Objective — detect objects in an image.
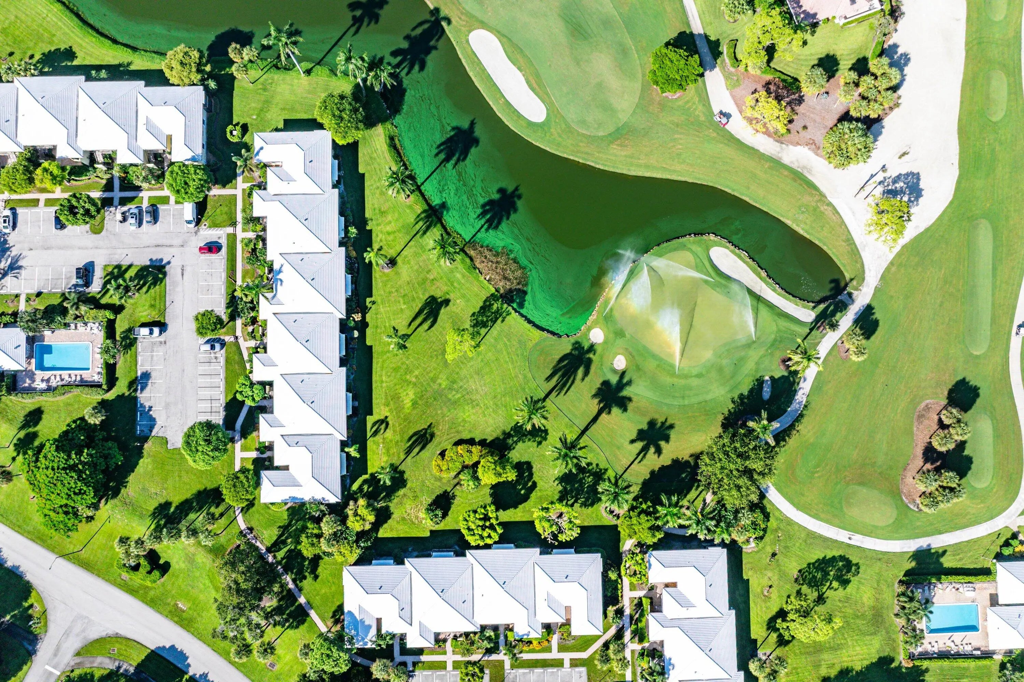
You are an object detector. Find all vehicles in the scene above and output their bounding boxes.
[53,208,65,229]
[116,212,126,223]
[143,205,154,226]
[199,343,222,353]
[74,266,86,290]
[127,208,138,230]
[130,327,161,338]
[0,209,12,232]
[181,201,195,228]
[198,245,218,255]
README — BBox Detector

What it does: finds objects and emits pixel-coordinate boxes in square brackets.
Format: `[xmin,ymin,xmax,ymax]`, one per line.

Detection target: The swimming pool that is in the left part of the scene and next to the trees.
[11,322,98,392]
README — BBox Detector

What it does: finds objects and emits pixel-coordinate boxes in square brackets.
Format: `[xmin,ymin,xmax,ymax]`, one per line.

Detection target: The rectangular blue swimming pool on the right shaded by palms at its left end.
[902,584,1014,659]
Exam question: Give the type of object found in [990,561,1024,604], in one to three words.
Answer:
building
